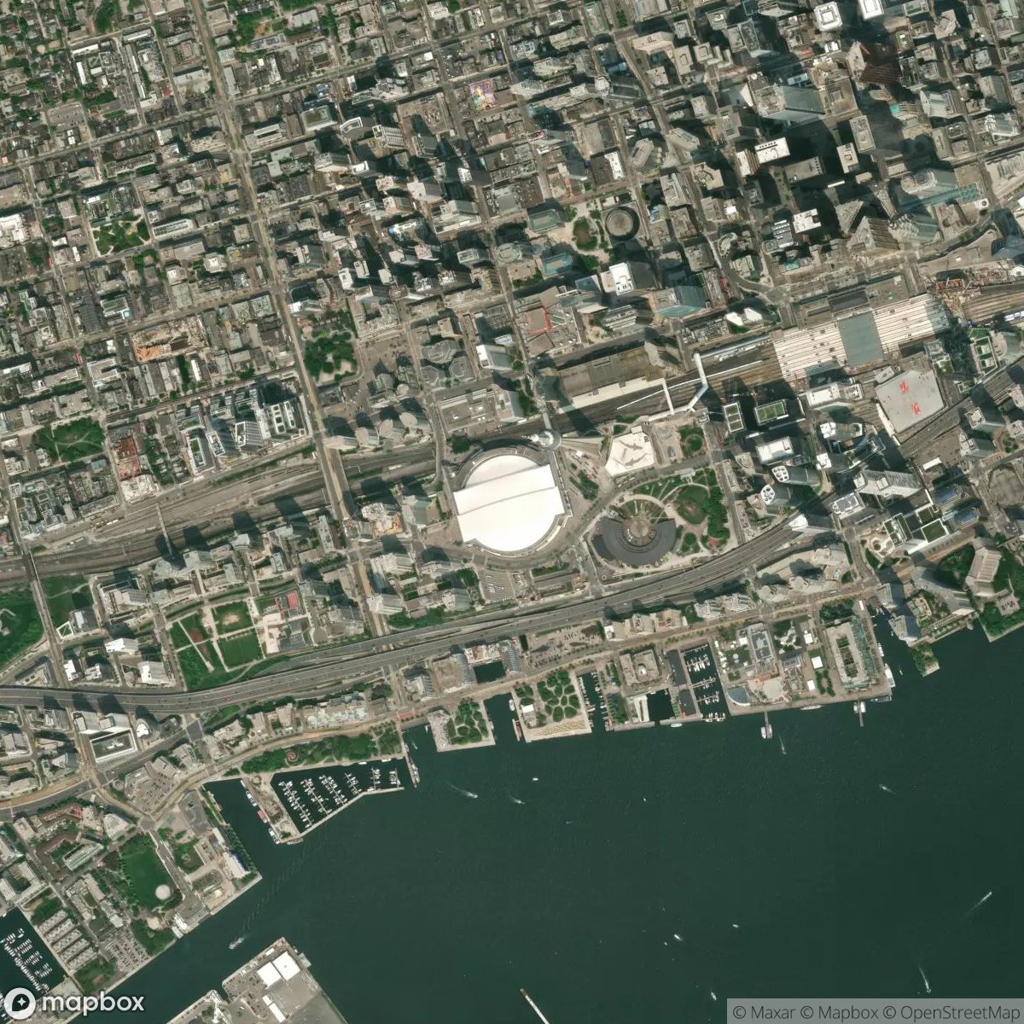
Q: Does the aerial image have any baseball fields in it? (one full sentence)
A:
Yes, a baseball field appears in the view.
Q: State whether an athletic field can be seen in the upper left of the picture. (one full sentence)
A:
No, no athletic field is visible in the upper left of the picture.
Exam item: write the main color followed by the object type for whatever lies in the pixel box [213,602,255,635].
green baseball field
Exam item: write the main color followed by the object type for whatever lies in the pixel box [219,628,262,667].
green sports field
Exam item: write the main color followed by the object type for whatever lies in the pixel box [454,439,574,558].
white stadium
